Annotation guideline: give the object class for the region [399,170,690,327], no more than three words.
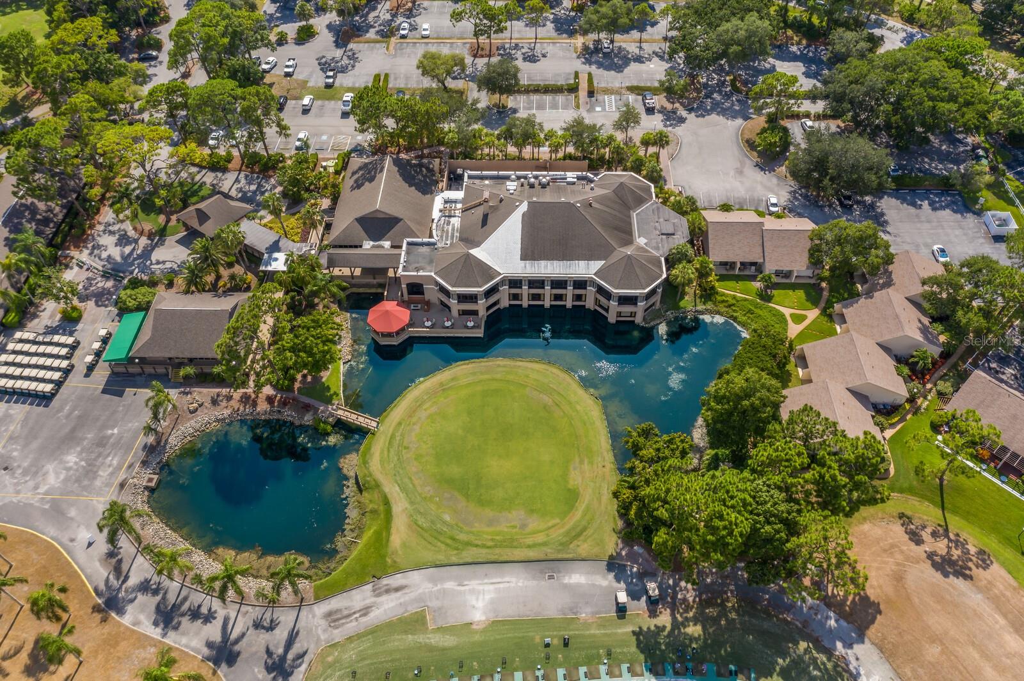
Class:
building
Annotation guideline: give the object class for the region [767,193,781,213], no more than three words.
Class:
car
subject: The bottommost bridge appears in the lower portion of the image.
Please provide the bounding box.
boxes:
[329,405,380,437]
